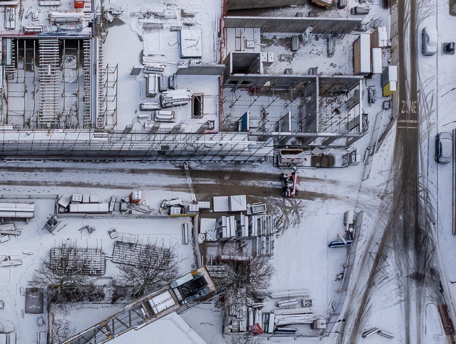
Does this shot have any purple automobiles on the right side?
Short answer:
No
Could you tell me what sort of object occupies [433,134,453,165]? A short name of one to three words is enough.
car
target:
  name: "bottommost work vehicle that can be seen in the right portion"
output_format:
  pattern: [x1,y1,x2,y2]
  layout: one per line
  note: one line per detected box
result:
[278,166,299,201]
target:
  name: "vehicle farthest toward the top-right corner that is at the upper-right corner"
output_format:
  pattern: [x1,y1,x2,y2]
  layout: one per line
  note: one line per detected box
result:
[418,28,437,59]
